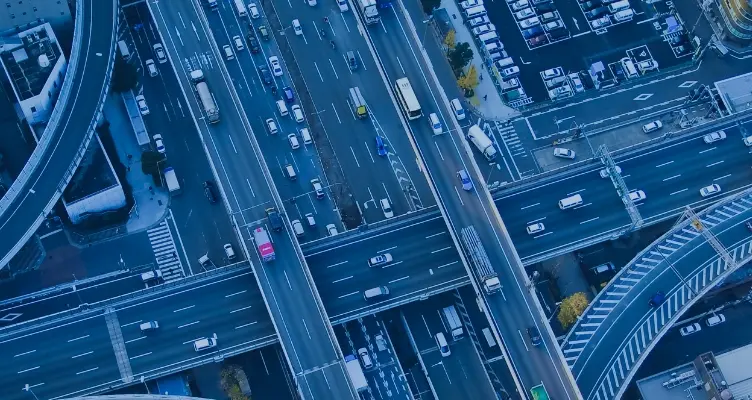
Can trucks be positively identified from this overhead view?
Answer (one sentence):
Yes, looking at the shot, I can spot a truck.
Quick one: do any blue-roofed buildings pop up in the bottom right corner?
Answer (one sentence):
Yes, there is a blue-roofed building in the bottom right corner.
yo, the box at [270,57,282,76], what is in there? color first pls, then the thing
blue vehicle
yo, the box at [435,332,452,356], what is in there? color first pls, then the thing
blue vehicle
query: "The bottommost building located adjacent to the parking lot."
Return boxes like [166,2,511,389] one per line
[704,71,752,119]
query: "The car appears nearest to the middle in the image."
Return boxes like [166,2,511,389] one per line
[380,197,394,217]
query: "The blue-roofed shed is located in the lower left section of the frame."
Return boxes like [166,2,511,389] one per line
[157,371,195,396]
